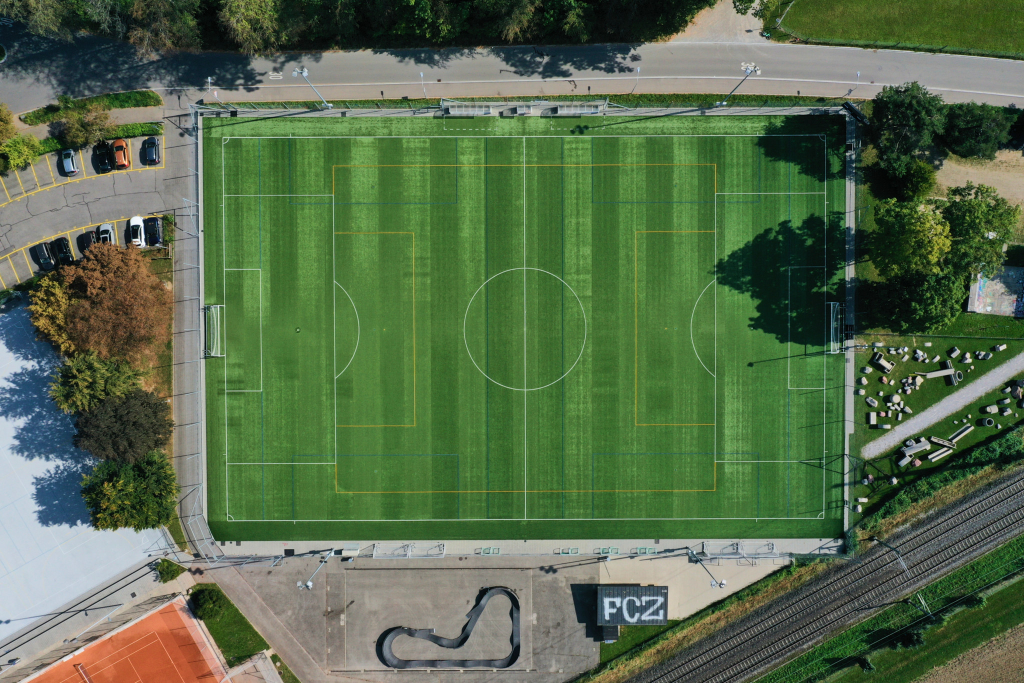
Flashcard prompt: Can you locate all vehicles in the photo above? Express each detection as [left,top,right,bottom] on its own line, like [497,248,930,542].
[82,230,101,260]
[146,217,162,246]
[145,137,162,166]
[35,241,57,271]
[96,141,115,174]
[129,216,146,248]
[99,223,117,252]
[56,237,75,267]
[113,139,131,170]
[63,149,81,178]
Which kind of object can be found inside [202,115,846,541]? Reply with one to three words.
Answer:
soccer field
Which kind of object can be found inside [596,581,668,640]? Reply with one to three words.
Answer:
building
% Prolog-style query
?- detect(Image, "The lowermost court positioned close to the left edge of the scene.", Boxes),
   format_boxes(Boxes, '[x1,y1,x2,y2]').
[18,595,232,683]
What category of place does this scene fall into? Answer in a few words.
sports ground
